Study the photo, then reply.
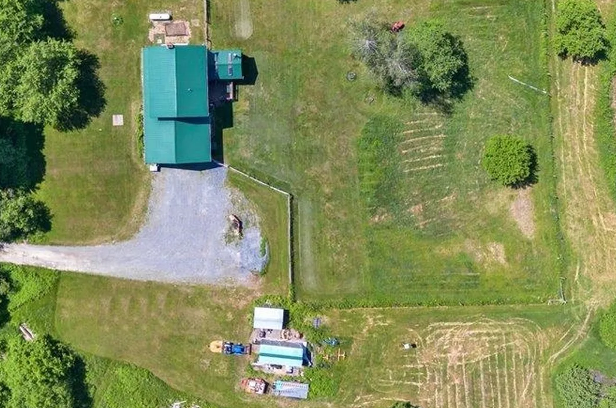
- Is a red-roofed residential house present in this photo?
No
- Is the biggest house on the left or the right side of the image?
left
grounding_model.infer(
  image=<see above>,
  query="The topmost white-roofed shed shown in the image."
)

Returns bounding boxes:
[254,309,284,333]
